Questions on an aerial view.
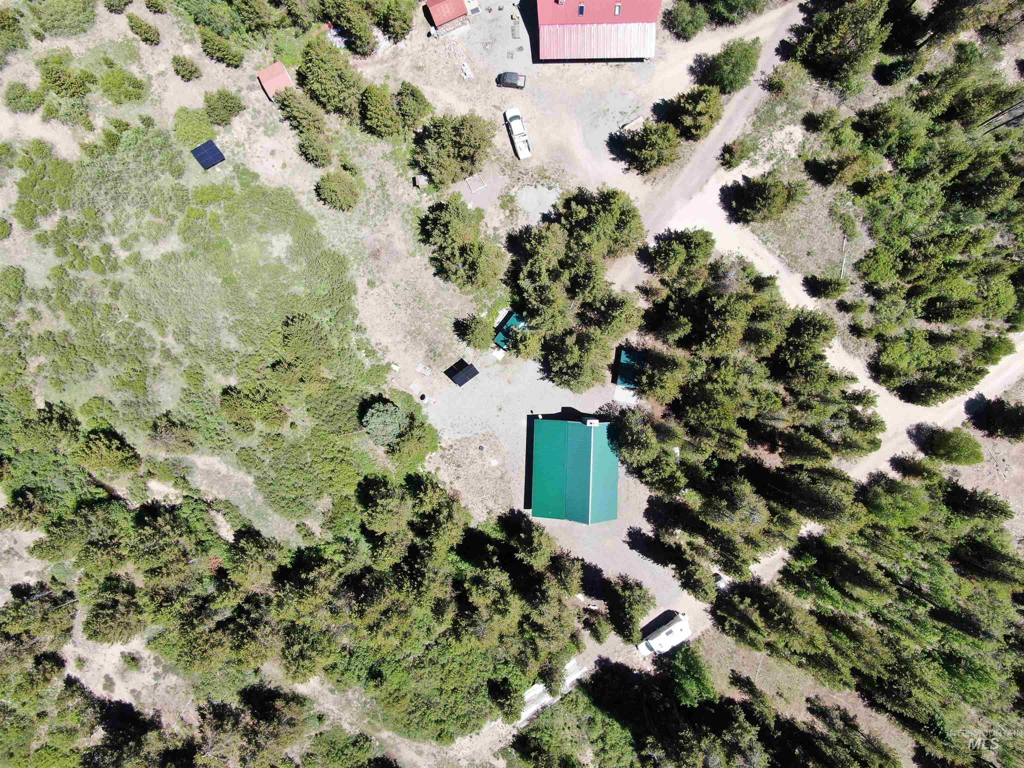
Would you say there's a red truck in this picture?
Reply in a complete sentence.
No, there appears to be no red truck in this shot.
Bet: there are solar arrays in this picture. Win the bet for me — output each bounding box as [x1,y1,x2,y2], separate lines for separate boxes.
[452,363,479,387]
[191,140,225,170]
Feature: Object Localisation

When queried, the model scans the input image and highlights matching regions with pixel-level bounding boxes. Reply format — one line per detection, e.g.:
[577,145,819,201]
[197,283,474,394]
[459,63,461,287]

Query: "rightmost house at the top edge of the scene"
[539,0,661,64]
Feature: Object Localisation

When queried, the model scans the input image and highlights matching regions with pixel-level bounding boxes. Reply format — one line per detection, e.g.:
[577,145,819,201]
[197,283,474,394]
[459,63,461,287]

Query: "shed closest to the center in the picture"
[494,314,523,358]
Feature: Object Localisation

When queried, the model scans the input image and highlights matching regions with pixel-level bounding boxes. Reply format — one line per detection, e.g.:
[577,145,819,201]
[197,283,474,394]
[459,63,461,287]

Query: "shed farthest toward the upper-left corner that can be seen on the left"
[253,54,298,103]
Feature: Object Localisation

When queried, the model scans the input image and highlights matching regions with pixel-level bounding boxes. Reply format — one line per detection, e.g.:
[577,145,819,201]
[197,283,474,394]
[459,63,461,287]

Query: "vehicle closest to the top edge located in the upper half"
[495,72,526,91]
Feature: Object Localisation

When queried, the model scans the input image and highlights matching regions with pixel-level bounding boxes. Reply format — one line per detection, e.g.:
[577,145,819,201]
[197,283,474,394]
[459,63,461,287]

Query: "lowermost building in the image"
[532,416,619,527]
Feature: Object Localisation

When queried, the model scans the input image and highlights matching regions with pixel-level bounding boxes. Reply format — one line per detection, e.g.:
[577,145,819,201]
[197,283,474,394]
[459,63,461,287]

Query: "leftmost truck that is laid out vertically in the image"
[507,108,532,162]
